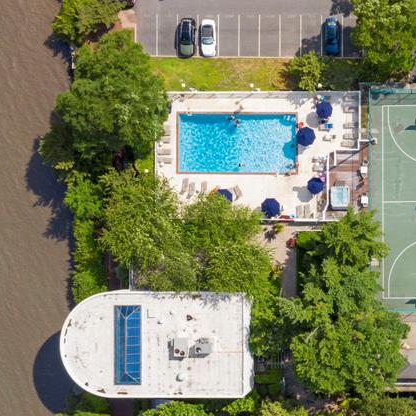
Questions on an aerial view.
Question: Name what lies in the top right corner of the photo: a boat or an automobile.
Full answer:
There is an automobile in the top right corner of the photo.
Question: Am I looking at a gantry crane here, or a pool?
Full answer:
It is a pool that can be seen here.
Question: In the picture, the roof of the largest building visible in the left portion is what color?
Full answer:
The roof over the largest building visible in the left portion appears white.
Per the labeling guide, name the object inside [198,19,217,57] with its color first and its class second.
white car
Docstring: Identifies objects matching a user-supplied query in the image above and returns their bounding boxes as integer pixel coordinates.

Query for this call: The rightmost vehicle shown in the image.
[323,19,340,54]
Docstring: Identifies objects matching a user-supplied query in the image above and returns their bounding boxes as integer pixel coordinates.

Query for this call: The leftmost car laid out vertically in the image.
[177,18,196,57]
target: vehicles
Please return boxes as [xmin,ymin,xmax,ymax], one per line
[198,19,217,57]
[107,0,139,8]
[323,19,340,54]
[177,18,196,57]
